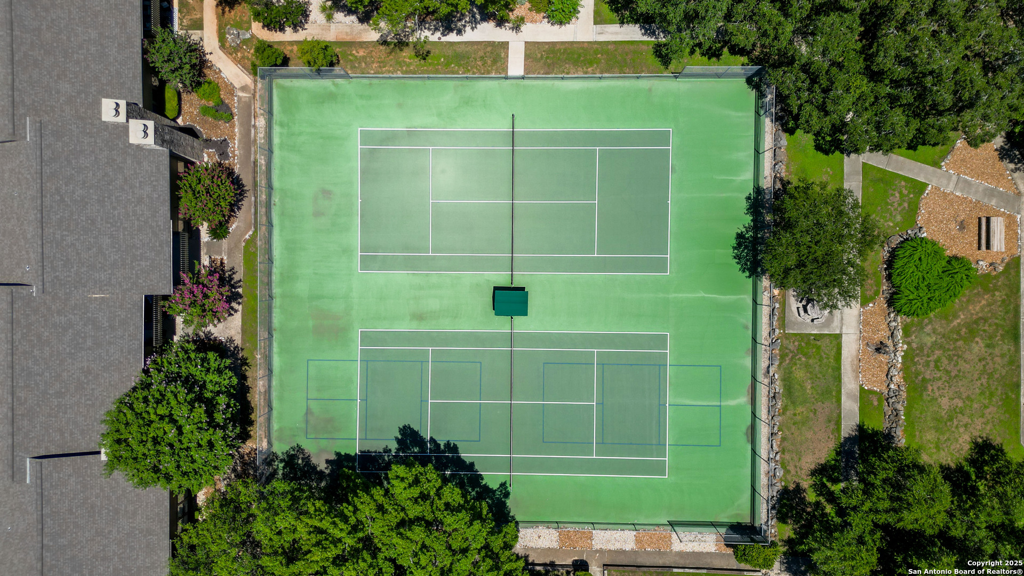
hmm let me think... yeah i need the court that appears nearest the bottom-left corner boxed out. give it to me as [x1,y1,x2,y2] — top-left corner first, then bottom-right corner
[306,360,481,442]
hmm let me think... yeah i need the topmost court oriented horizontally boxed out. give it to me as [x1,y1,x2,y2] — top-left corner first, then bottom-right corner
[358,128,672,275]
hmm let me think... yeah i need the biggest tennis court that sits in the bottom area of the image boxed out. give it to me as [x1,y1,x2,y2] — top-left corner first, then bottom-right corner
[357,329,669,478]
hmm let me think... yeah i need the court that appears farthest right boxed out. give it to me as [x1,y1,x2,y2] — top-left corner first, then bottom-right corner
[543,363,722,446]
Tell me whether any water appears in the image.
No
